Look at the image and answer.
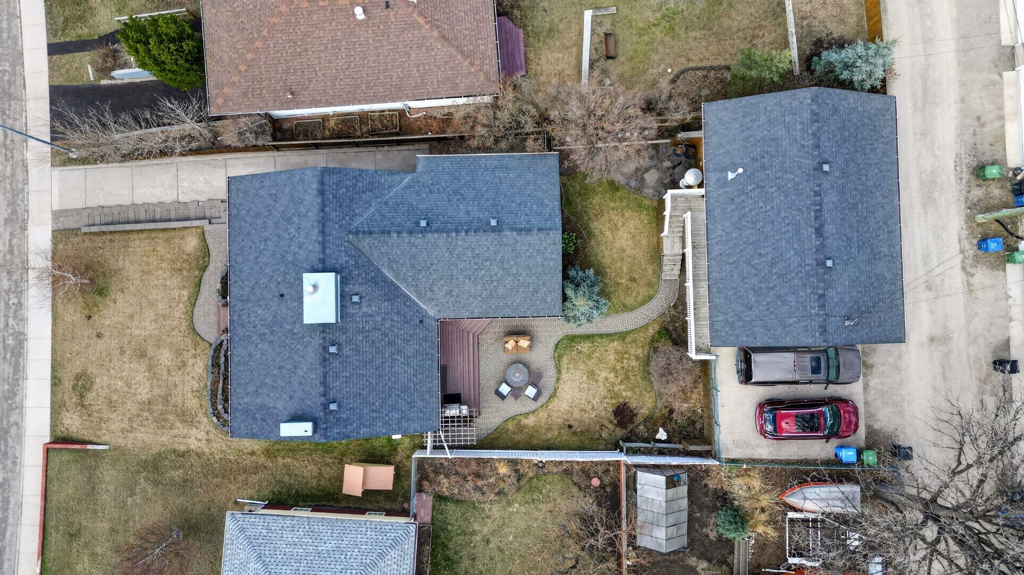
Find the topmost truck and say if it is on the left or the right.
right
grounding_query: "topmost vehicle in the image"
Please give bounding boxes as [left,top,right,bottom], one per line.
[730,344,860,395]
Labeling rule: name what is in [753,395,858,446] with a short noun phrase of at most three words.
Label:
car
